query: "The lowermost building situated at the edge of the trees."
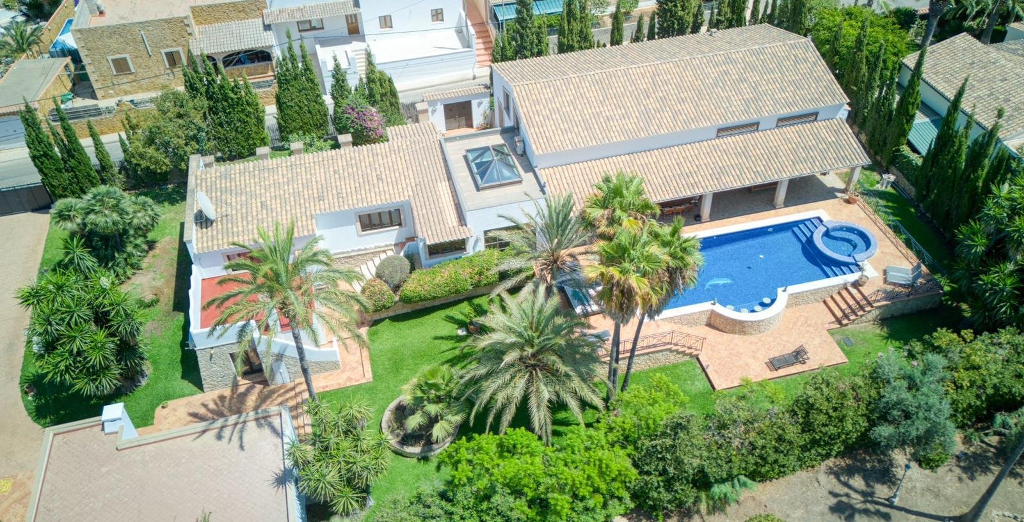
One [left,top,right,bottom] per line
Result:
[27,407,297,522]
